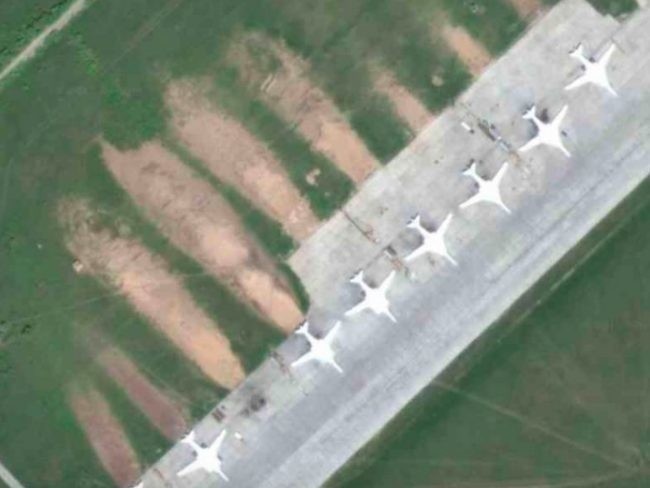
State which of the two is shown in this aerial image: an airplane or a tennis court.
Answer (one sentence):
Looking from above, you can make out an airplane.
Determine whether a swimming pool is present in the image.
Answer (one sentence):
No, no swimming pool can be seen from above.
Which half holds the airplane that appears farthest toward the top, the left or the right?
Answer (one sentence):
The airplane that appears farthest toward the top appears in the right half of the scene.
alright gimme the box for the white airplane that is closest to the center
[345,270,396,322]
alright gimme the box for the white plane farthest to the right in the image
[566,44,618,96]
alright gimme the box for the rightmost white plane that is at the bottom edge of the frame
[176,428,228,481]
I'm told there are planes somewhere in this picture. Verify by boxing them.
[518,103,569,155]
[345,270,396,322]
[290,320,342,372]
[566,44,618,96]
[405,213,457,265]
[459,160,510,213]
[176,428,228,481]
